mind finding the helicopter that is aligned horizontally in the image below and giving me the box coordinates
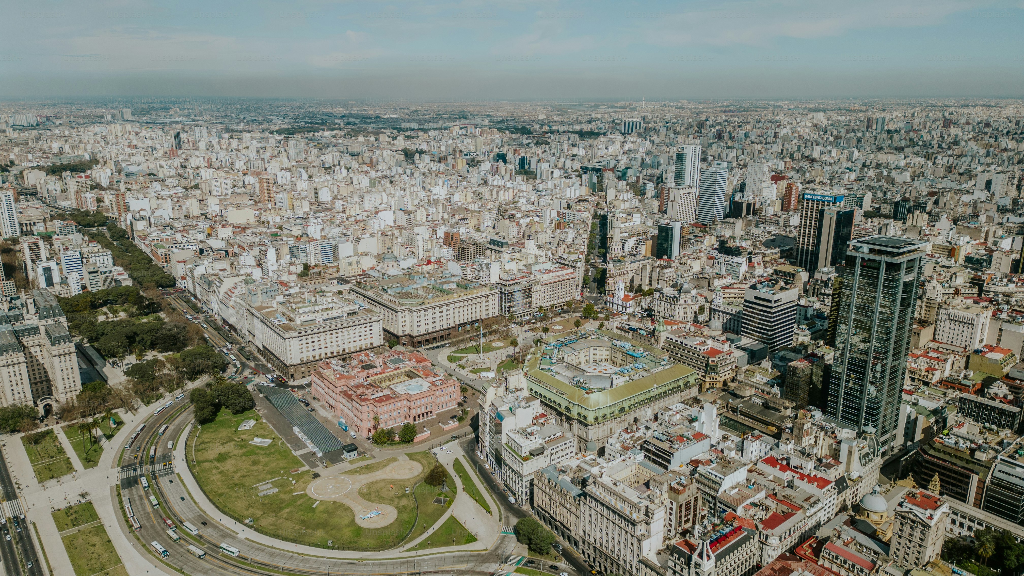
[360,503,387,517]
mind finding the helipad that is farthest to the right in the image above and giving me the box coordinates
[859,238,916,250]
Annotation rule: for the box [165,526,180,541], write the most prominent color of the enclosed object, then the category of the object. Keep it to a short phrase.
white vehicle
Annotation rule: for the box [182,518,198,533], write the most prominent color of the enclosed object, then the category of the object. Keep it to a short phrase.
white vehicle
